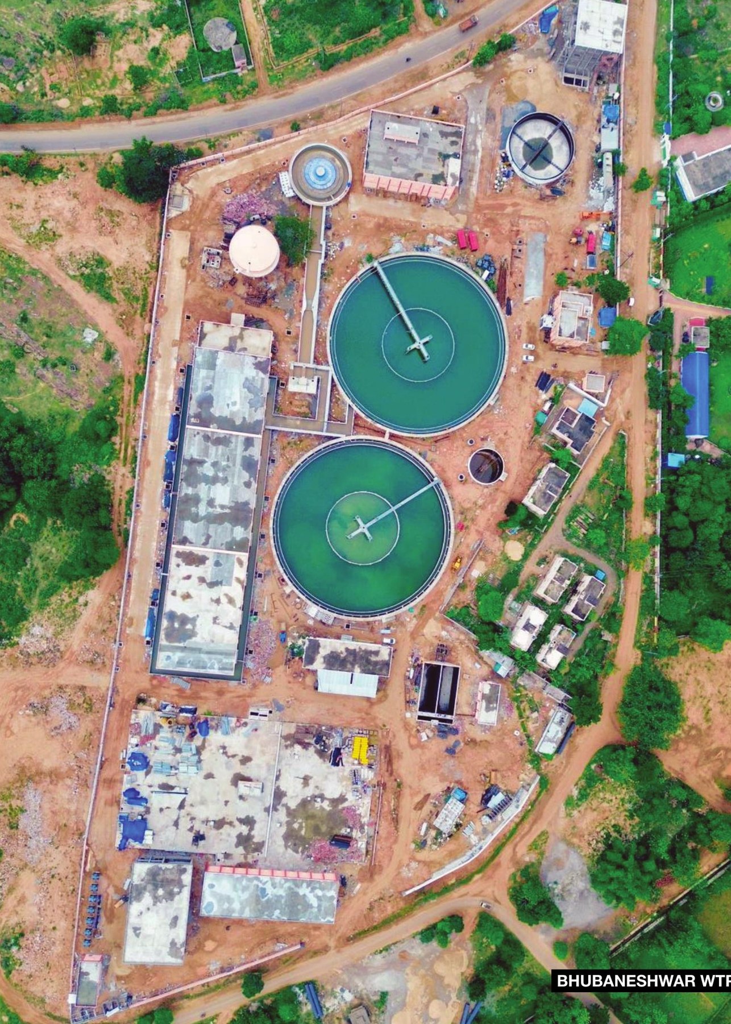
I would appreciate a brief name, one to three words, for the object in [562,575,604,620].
building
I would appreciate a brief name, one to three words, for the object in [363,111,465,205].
house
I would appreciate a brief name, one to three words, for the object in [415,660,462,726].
storage tank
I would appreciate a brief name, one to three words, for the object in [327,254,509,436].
water tank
